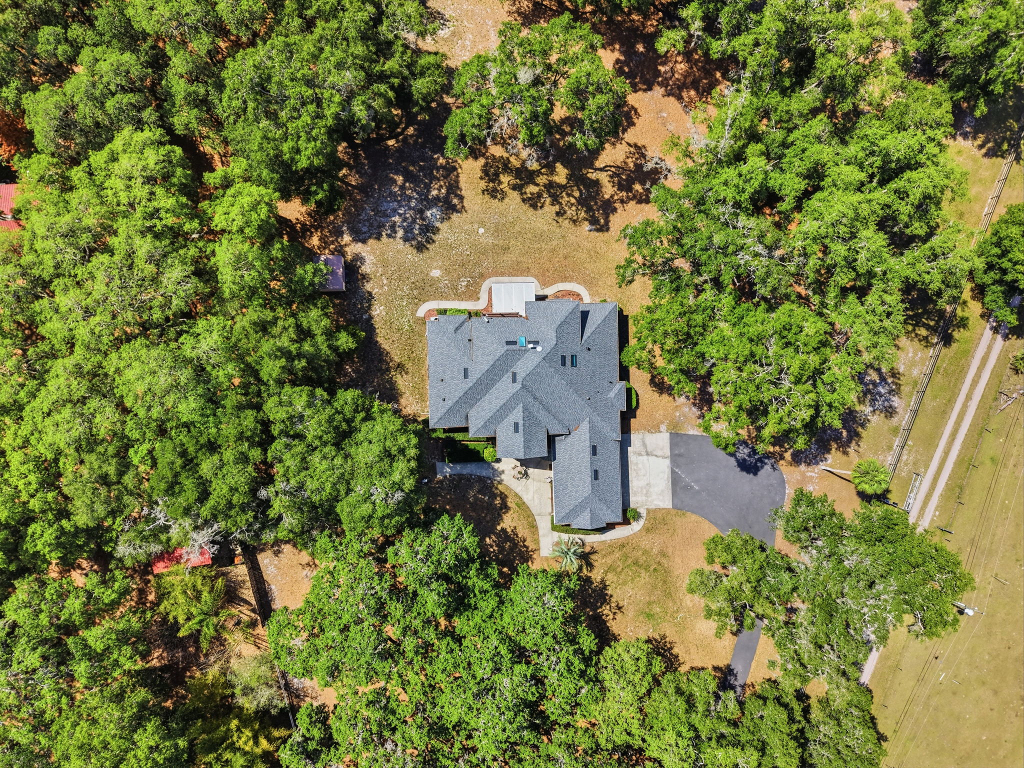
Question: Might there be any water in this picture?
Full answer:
No, there is no water in the image.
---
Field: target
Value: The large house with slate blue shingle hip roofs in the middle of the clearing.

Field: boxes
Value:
[421,301,626,530]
